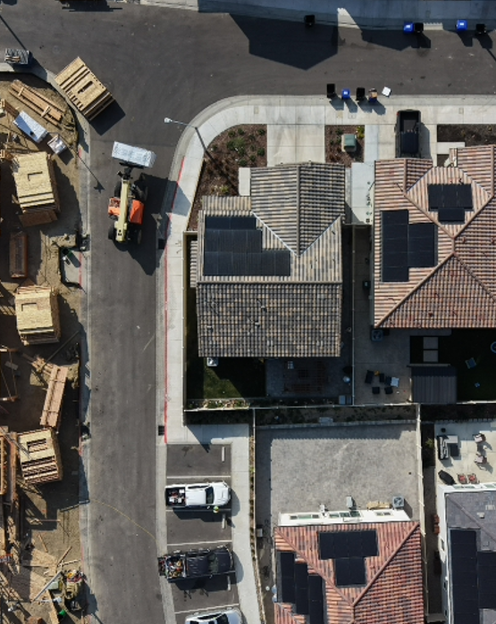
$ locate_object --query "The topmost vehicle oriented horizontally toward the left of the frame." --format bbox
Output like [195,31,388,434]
[164,481,233,510]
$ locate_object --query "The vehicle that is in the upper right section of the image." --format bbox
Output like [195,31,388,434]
[395,109,422,158]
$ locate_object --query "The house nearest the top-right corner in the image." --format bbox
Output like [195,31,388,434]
[371,144,496,329]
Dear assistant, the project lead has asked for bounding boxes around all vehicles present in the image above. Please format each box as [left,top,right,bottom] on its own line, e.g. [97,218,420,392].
[162,547,238,581]
[187,606,244,624]
[395,109,422,158]
[164,481,233,510]
[108,160,144,241]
